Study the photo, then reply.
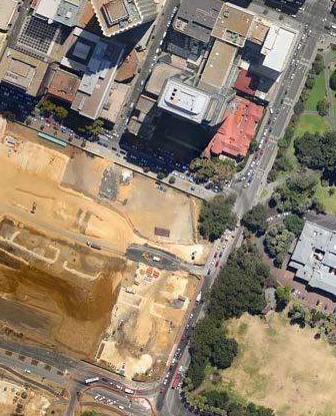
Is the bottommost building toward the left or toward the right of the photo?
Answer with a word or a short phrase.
right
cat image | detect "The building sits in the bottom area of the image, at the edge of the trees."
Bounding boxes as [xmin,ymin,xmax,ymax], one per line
[288,222,336,295]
